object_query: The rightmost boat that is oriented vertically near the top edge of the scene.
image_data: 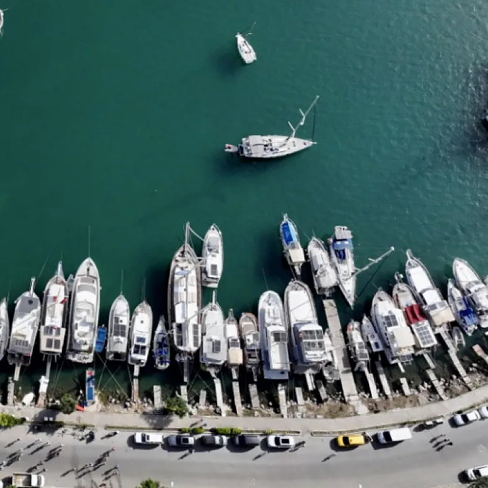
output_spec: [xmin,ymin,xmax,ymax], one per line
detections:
[238,23,255,67]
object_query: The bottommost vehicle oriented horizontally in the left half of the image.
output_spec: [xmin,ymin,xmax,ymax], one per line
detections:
[10,471,46,487]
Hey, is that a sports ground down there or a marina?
marina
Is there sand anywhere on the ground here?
No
